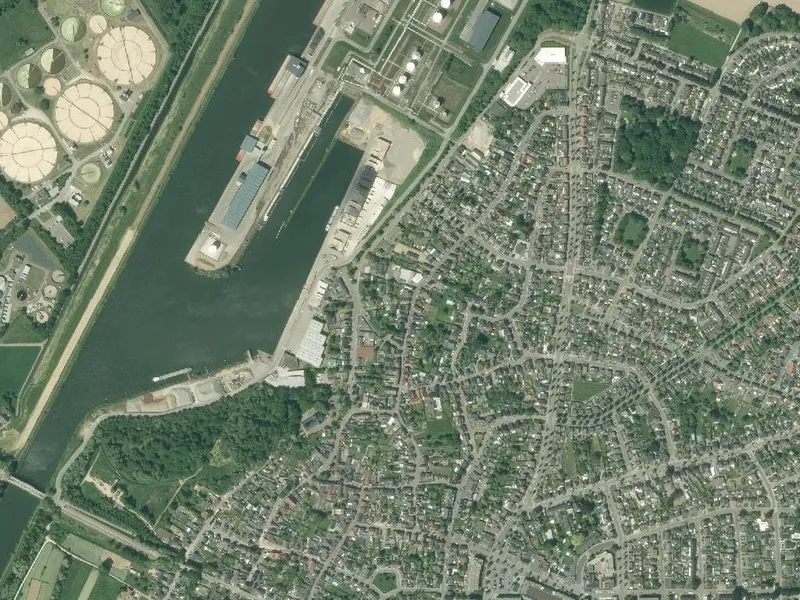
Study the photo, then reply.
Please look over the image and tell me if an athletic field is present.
Yes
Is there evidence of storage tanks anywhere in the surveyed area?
Yes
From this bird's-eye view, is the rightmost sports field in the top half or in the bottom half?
top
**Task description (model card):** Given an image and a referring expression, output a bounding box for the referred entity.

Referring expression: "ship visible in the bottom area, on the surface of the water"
[153,367,192,381]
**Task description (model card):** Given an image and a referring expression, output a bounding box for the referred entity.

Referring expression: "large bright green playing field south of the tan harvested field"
[668,18,730,67]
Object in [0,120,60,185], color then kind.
white storage tank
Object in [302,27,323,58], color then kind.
gray ship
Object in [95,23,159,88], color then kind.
white storage tank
